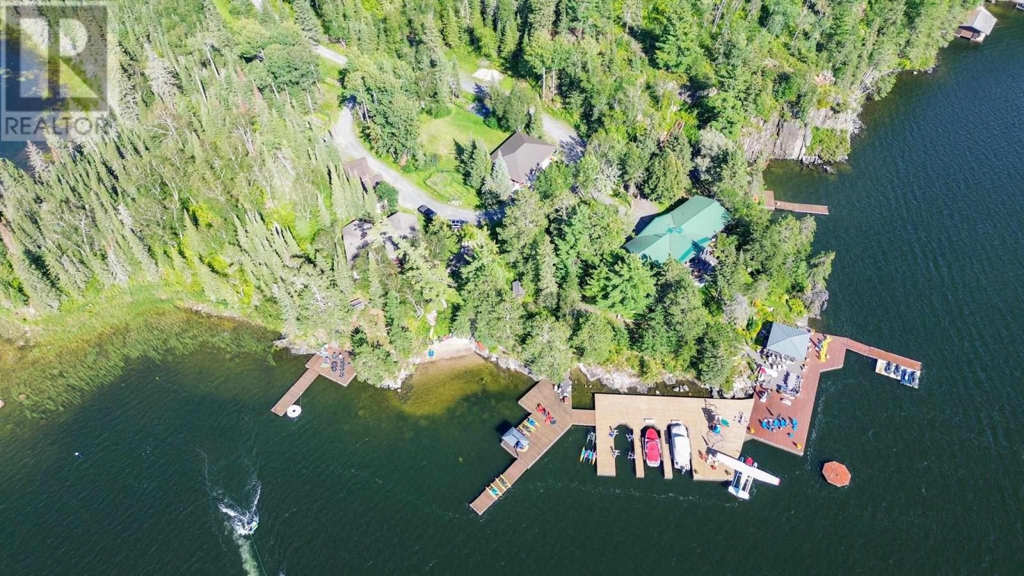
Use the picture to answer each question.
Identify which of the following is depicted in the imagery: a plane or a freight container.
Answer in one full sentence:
I can see a plane in this picture.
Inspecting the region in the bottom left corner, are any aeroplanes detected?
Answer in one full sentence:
No, there is no aeroplane in the bottom left corner.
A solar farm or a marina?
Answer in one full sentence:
The area seen from above is a marina.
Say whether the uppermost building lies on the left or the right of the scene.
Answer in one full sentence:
The uppermost building sits on the right side.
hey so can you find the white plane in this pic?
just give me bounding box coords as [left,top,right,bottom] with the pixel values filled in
[714,452,781,496]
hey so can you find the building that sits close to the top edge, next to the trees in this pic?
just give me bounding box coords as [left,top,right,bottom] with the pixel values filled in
[951,7,997,38]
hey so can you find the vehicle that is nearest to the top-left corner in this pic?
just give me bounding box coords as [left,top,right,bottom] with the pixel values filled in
[413,202,439,220]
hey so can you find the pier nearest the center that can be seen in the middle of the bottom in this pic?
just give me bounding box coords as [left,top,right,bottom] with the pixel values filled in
[500,379,572,470]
